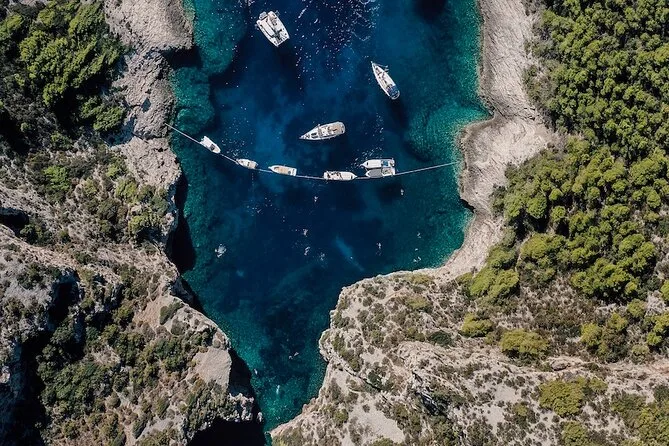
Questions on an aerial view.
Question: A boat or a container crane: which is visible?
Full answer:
The one in the frame is a boat.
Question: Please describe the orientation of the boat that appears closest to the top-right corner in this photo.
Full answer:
The boat that appears closest to the top-right corner is oriented diagonally.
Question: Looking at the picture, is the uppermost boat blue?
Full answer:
No, the uppermost boat is actually white.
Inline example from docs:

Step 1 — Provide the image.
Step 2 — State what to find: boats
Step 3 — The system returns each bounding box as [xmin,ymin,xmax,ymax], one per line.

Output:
[372,61,400,100]
[366,167,397,178]
[237,159,259,169]
[301,121,347,138]
[361,158,397,168]
[321,170,357,180]
[253,5,291,48]
[268,165,297,177]
[200,136,220,153]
